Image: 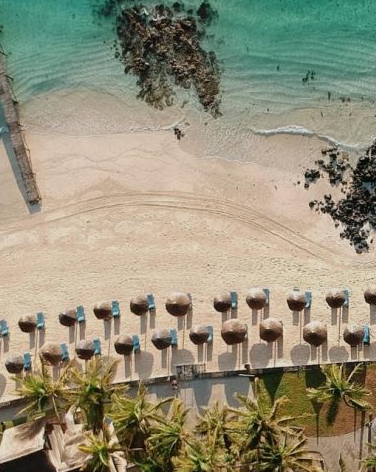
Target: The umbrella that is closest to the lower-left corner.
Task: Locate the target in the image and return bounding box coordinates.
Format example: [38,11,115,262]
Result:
[7,355,27,374]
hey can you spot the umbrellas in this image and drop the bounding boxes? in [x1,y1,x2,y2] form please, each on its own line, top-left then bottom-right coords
[247,289,267,308]
[153,330,172,349]
[60,308,77,326]
[42,342,63,363]
[261,318,283,341]
[304,322,327,344]
[222,319,247,344]
[20,313,38,331]
[116,335,135,354]
[190,325,210,344]
[7,355,27,374]
[96,302,113,319]
[131,296,149,315]
[364,285,376,306]
[344,326,364,345]
[327,288,346,307]
[167,292,190,315]
[288,291,307,309]
[214,294,231,312]
[77,340,96,360]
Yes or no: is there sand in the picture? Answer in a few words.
Yes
